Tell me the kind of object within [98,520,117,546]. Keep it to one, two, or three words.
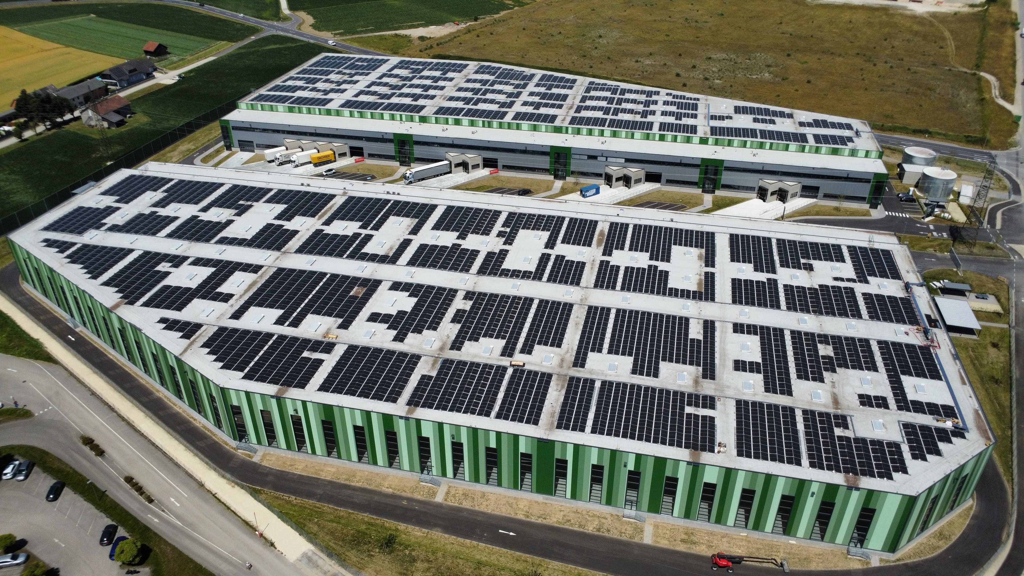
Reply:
car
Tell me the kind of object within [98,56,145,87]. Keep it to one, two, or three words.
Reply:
house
